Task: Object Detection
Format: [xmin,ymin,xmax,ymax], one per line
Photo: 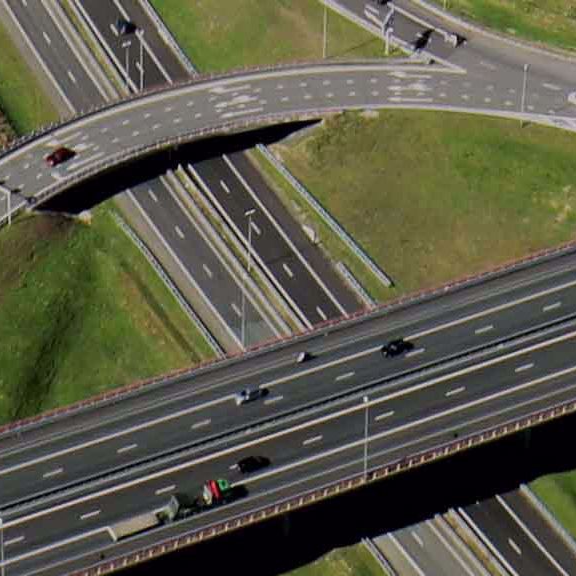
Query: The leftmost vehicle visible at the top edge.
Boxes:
[113,20,131,36]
